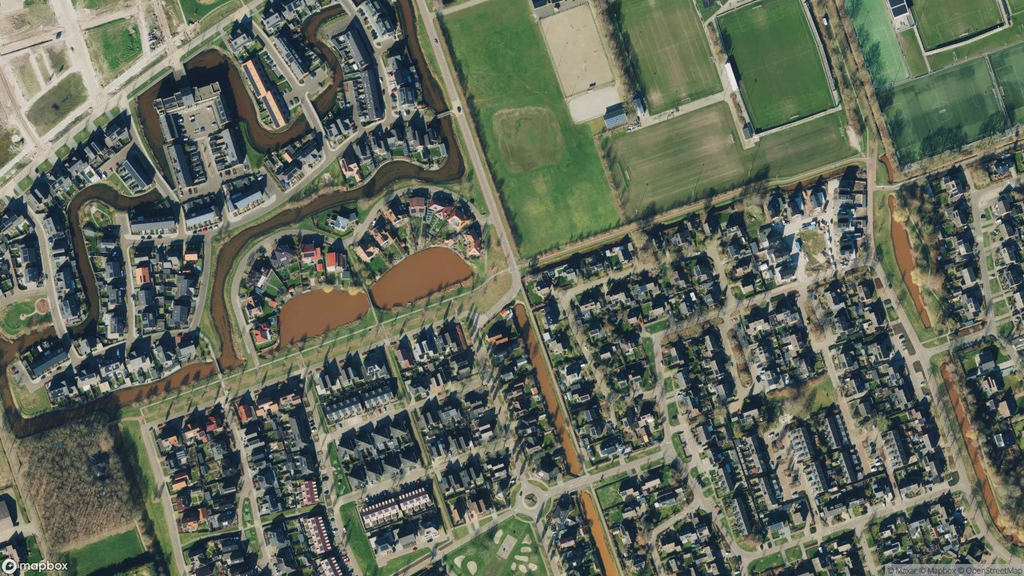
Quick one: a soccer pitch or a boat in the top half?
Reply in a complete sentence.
What appears in the top half is a soccer pitch.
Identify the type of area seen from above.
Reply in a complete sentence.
This image shows a residential area.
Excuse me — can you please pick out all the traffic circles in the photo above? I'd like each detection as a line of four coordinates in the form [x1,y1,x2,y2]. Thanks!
[514,483,549,515]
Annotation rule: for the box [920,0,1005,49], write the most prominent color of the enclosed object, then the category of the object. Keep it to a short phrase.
green soccer field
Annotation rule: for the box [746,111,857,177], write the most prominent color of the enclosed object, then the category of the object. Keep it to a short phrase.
green soccer field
